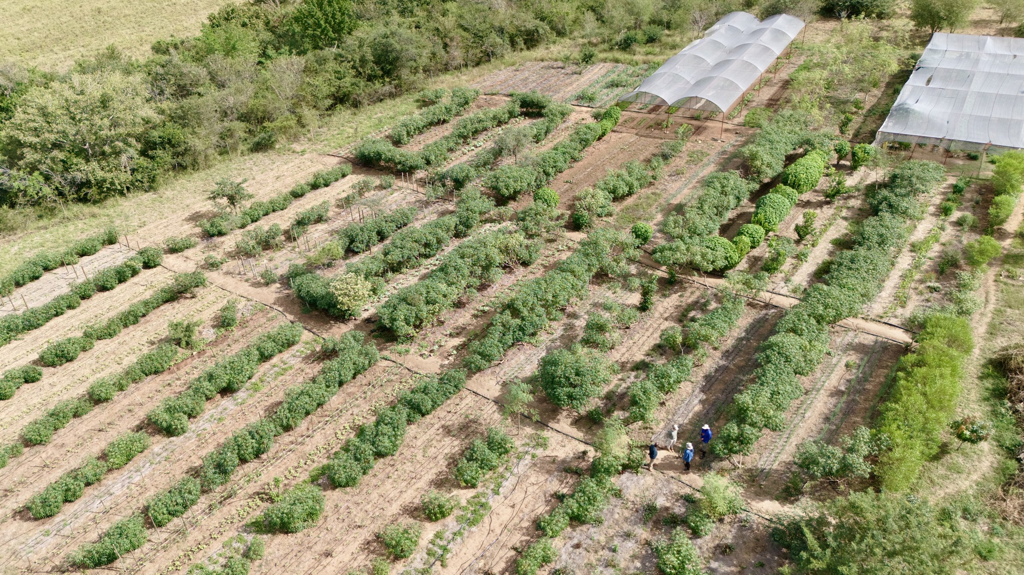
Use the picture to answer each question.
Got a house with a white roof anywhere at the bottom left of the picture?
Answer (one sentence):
No, there is no house with a white roof at the bottom left of the picture.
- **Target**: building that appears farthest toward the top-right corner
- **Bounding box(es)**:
[868,33,1024,174]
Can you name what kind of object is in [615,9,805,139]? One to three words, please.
house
